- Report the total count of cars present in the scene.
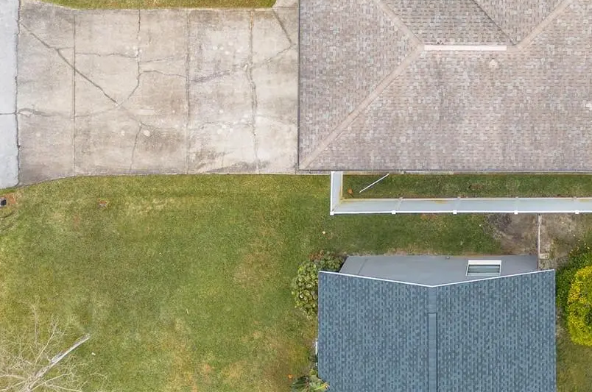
0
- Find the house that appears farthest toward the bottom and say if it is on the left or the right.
right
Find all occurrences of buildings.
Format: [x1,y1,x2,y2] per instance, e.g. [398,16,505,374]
[313,256,554,392]
[298,0,592,176]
